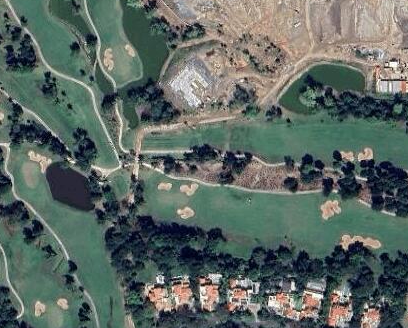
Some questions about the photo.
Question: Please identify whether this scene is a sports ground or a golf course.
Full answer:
This image shows a golf course.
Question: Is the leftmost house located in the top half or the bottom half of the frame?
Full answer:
Seen from above, the leftmost house lies in the bottom half of the view.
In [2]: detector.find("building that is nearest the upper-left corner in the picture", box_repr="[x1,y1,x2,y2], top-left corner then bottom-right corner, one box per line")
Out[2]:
[171,61,213,106]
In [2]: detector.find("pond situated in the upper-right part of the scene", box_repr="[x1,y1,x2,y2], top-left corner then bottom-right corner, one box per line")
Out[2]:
[277,62,367,115]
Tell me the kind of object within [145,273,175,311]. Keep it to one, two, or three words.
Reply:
house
